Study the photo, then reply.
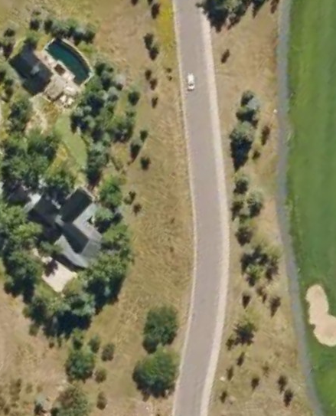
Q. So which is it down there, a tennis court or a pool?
pool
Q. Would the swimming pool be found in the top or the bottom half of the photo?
top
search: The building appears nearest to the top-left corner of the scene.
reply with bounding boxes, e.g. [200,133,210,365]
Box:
[7,43,54,92]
